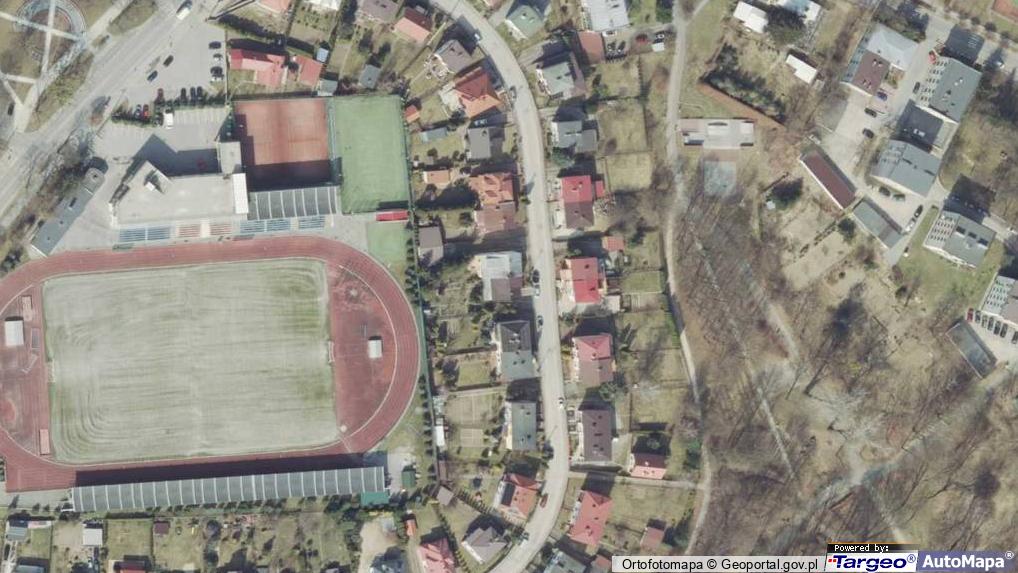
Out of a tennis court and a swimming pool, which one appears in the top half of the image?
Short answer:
tennis court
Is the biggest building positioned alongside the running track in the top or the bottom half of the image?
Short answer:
top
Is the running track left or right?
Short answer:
left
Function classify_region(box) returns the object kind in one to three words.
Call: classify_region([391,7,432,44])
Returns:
house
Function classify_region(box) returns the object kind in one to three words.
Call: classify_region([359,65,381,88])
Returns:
shed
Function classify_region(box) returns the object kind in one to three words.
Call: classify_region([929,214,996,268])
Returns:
building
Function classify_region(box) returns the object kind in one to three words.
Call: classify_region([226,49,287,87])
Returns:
house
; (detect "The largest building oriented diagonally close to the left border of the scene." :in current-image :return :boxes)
[31,168,105,256]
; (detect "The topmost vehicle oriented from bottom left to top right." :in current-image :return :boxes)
[177,2,191,19]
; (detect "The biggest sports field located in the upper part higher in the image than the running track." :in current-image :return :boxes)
[335,95,412,215]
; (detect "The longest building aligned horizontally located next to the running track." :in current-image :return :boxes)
[105,161,250,224]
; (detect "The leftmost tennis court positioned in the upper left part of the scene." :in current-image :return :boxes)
[234,99,283,190]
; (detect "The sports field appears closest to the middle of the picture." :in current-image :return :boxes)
[367,222,414,272]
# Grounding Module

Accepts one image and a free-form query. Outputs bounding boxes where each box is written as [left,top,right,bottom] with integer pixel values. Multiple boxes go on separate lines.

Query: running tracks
[0,234,421,493]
